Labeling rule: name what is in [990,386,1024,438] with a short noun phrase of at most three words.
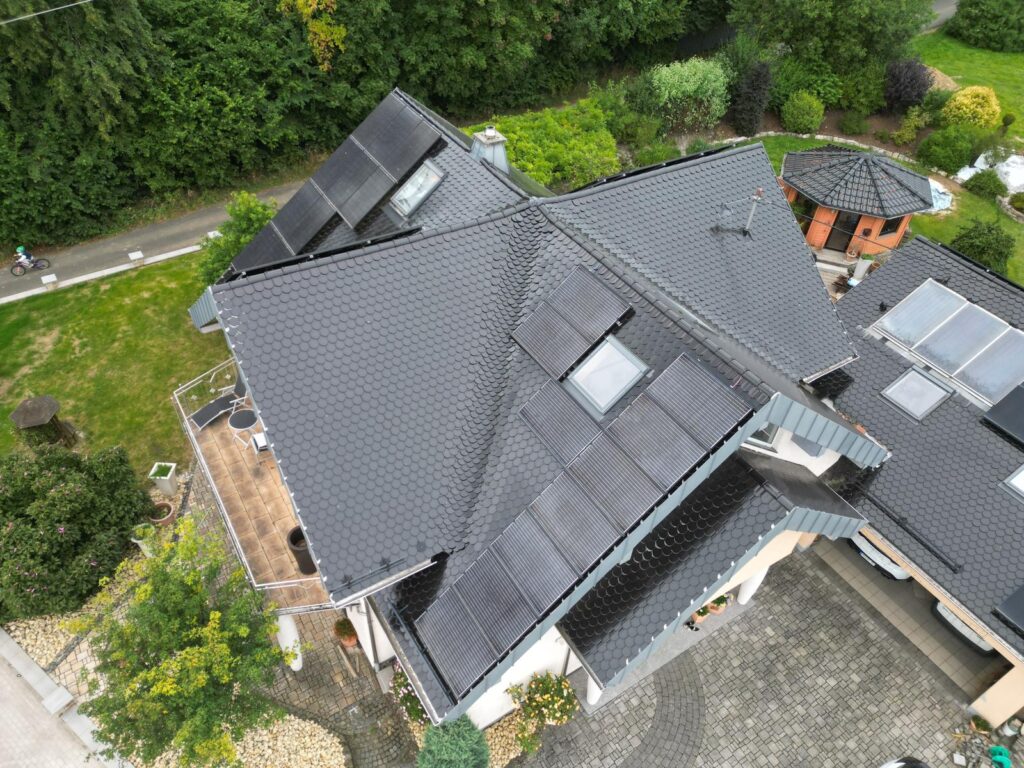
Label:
solar panel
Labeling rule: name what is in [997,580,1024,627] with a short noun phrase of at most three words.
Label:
solar panel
